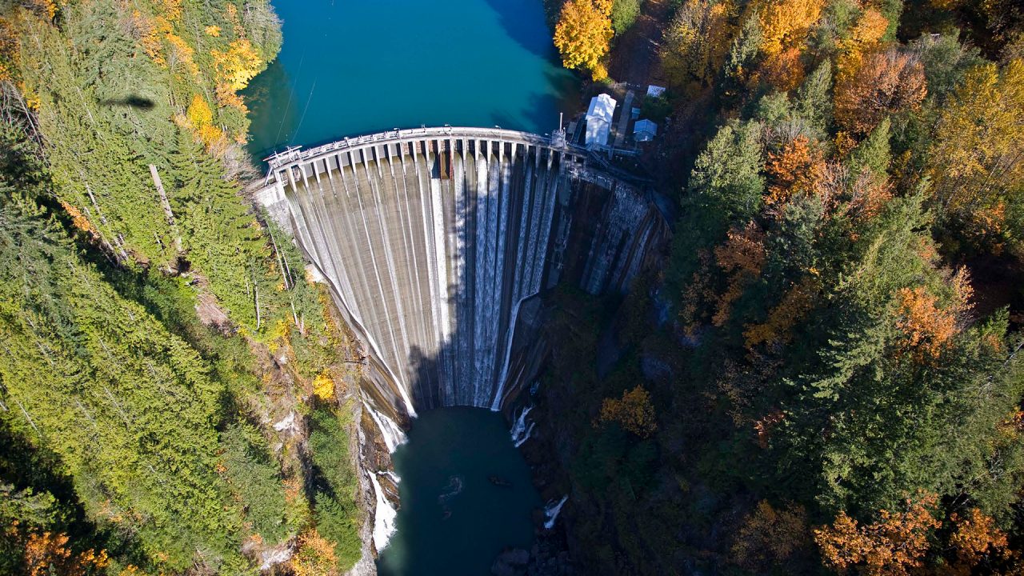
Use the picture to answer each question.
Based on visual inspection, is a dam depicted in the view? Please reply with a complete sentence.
Yes, a dam appears in the view.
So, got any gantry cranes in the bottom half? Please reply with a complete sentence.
No, I see no gantry crane in the bottom half.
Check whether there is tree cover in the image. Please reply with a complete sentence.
Yes, there's tree cover in this view.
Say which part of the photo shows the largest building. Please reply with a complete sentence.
You can find the largest building in the top area of the picture.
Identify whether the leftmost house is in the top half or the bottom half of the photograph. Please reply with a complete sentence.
You can find the leftmost house in the top half.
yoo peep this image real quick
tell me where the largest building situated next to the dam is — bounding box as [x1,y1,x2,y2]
[585,90,621,150]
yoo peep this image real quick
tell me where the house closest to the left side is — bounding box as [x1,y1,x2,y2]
[548,103,570,152]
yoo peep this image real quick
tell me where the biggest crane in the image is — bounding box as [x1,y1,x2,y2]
[264,141,303,176]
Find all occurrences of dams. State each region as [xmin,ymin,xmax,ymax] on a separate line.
[252,122,680,416]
